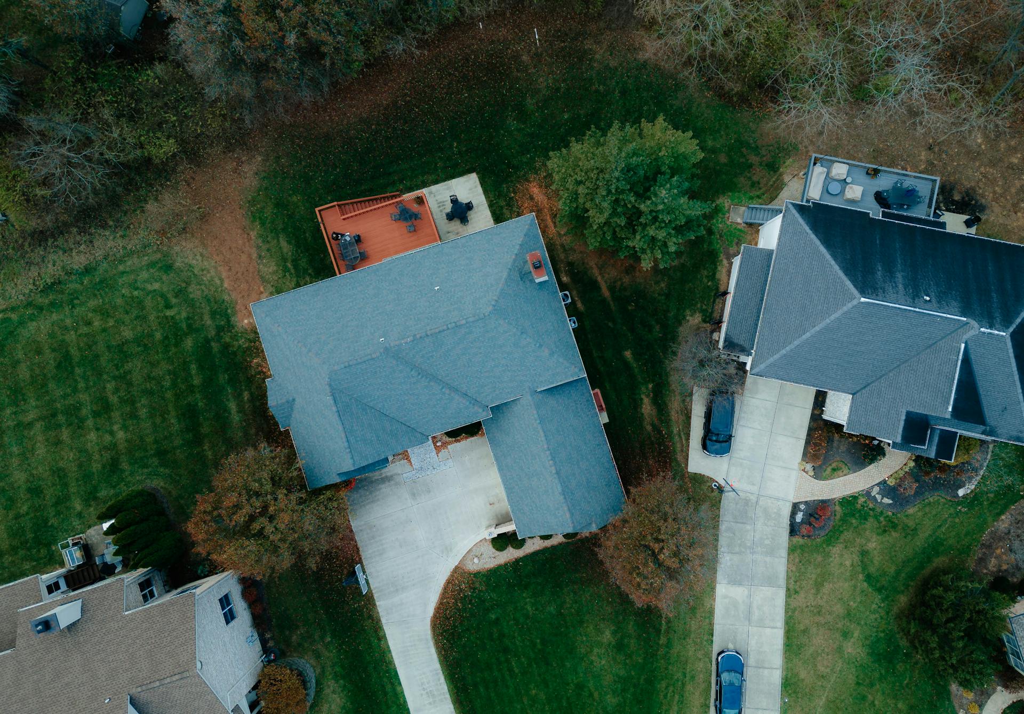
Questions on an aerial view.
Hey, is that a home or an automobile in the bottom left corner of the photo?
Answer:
home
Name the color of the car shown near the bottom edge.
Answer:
blue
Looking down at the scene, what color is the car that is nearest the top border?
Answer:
blue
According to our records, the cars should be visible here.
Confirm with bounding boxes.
[711,653,746,714]
[699,387,737,462]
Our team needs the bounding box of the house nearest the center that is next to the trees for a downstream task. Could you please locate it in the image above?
[248,211,629,540]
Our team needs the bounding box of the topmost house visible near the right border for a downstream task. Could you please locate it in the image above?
[711,198,1024,463]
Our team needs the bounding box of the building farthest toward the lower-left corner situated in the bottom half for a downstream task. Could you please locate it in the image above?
[0,565,272,714]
